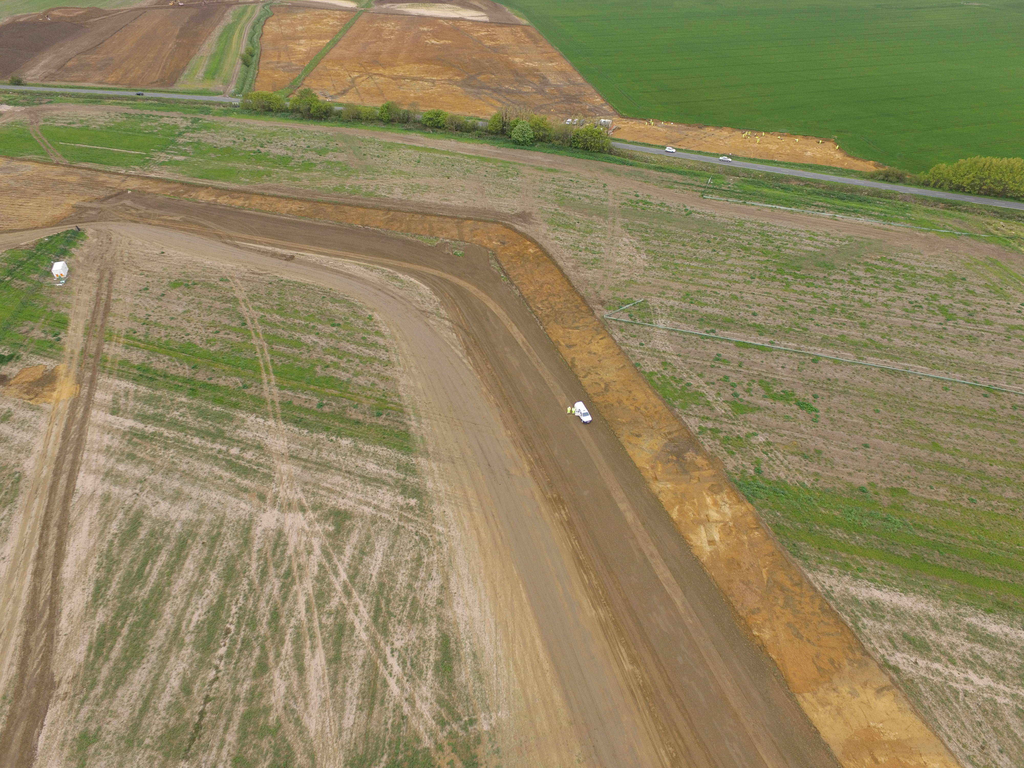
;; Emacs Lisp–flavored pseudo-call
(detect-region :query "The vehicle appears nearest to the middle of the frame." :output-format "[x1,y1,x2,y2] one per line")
[575,402,592,423]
